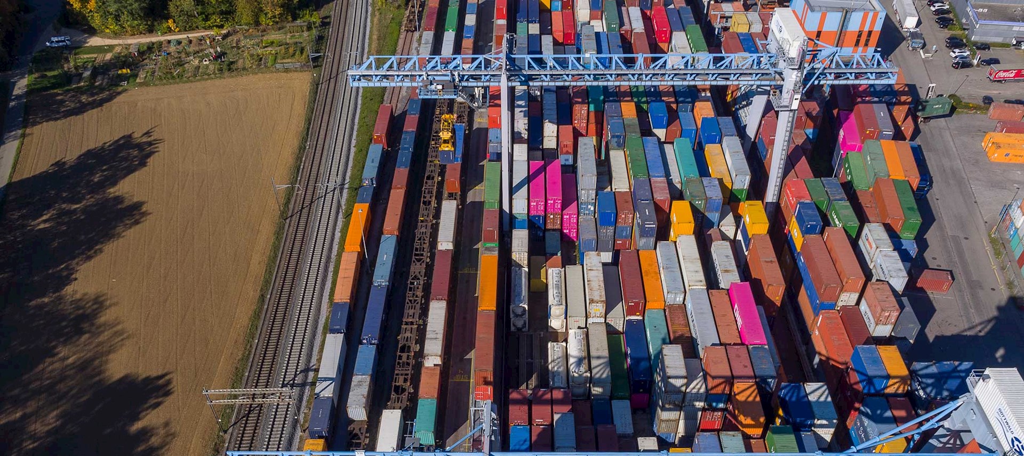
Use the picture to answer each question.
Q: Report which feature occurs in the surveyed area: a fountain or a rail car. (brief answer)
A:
rail car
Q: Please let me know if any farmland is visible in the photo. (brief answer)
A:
Yes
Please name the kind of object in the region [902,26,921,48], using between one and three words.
vehicle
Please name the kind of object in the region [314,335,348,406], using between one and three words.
shipping container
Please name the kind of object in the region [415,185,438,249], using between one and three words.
rail car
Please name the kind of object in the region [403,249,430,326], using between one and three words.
rail car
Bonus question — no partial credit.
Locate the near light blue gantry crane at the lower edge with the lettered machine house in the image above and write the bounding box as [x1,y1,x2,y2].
[236,361,1024,456]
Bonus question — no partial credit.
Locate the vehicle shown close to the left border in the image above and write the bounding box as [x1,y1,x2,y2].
[47,33,70,46]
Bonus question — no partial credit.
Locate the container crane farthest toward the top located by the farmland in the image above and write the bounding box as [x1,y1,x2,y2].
[345,6,900,254]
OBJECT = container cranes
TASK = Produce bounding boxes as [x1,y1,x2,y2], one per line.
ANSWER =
[236,361,1024,456]
[345,6,900,254]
